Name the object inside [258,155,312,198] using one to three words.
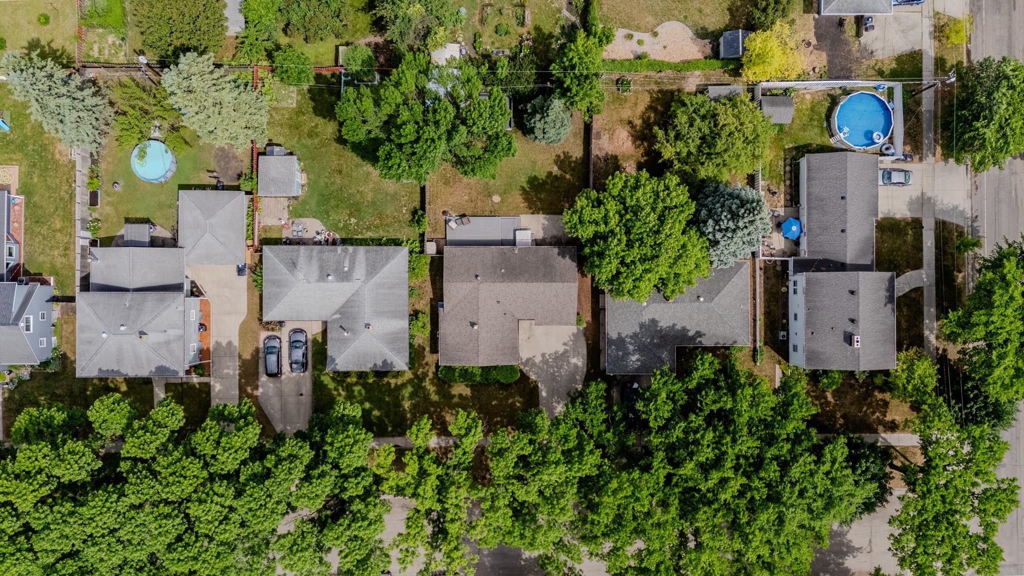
shed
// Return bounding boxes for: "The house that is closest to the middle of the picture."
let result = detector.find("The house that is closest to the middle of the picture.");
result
[437,246,578,367]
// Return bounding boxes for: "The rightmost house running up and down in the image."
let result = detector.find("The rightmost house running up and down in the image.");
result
[786,151,896,371]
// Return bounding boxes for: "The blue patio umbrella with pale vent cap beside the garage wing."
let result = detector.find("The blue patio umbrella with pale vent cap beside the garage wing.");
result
[780,217,802,240]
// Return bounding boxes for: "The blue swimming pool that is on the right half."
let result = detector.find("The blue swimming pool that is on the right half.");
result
[829,91,894,152]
